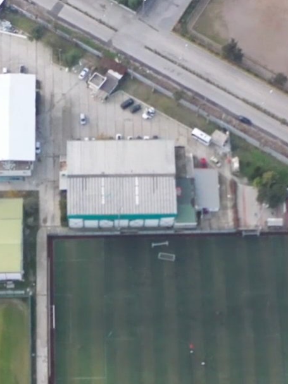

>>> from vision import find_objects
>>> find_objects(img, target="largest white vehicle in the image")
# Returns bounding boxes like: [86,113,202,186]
[188,124,212,145]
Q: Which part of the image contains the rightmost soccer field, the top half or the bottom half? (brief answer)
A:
bottom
